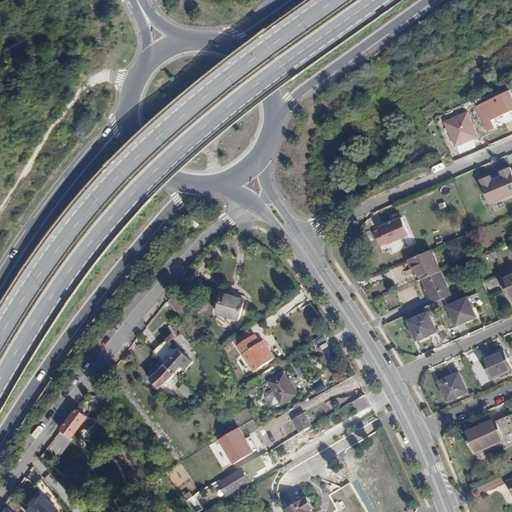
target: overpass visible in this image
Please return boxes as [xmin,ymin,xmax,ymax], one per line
[0,0,414,412]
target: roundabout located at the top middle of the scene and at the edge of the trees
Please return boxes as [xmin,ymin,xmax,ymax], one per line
[112,24,292,228]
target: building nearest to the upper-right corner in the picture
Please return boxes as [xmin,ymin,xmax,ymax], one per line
[473,84,512,132]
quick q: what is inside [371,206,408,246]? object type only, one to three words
house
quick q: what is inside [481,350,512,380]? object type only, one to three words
house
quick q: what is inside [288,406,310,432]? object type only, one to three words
building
